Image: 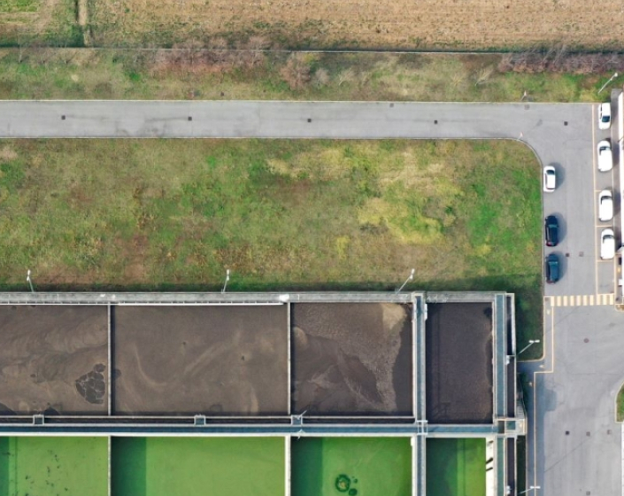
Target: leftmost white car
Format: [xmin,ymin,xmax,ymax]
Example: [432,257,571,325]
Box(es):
[541,167,557,195]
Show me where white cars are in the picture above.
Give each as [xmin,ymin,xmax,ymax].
[598,231,617,260]
[541,167,557,195]
[595,102,613,132]
[594,142,613,174]
[597,192,614,222]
